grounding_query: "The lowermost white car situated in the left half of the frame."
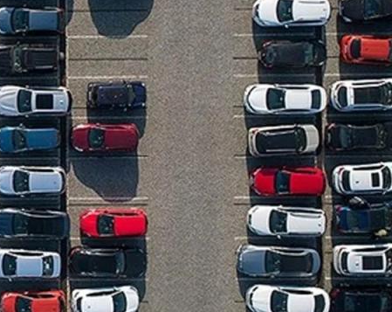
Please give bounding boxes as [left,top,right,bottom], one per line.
[71,284,138,312]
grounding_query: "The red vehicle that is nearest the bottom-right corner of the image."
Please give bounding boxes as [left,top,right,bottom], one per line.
[249,165,324,200]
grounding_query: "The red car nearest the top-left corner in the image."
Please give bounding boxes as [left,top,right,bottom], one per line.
[68,121,139,156]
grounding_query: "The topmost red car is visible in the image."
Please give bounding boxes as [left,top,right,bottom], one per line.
[337,33,392,67]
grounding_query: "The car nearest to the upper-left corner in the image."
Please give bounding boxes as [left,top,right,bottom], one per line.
[0,3,60,37]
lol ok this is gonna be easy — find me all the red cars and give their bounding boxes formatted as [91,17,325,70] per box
[79,207,145,241]
[249,165,324,200]
[68,121,139,156]
[337,33,392,67]
[0,289,63,312]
